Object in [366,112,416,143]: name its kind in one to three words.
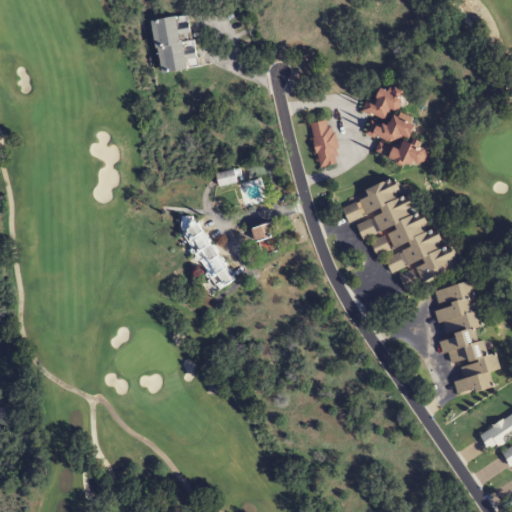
house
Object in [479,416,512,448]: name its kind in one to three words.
house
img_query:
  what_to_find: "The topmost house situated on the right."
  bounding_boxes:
[362,86,408,119]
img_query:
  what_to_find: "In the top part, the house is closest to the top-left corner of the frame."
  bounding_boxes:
[151,16,198,74]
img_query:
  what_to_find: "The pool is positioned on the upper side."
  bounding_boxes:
[241,178,266,206]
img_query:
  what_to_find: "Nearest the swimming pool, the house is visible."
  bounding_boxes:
[216,168,243,186]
